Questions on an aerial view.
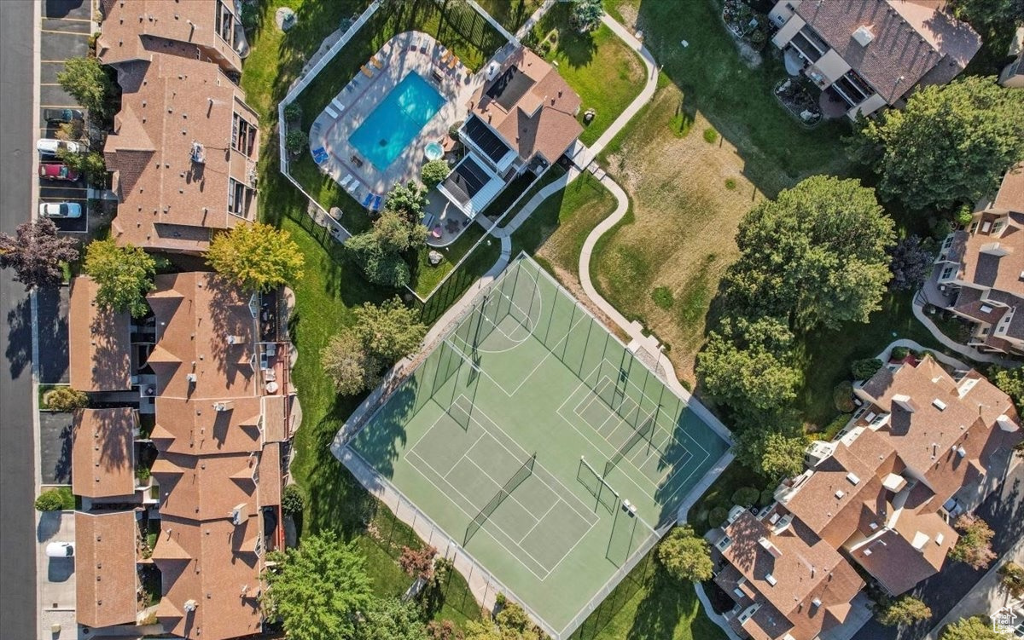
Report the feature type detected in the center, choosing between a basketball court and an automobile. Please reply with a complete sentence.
The one visible in the center is a basketball court.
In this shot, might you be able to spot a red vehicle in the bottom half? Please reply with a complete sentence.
No, I see no red vehicle in the bottom half.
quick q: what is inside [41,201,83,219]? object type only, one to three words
car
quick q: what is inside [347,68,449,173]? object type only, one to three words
swimming pool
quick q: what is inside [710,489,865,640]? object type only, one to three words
house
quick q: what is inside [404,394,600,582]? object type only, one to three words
tennis court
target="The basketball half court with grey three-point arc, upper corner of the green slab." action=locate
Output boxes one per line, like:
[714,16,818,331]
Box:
[451,261,539,352]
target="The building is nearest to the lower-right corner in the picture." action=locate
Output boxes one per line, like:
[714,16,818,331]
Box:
[843,476,959,597]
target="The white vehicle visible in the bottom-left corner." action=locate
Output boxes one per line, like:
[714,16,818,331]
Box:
[46,541,76,560]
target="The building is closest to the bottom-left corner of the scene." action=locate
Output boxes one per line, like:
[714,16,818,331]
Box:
[75,510,144,629]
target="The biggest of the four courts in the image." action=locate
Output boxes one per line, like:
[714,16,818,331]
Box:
[346,256,729,633]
